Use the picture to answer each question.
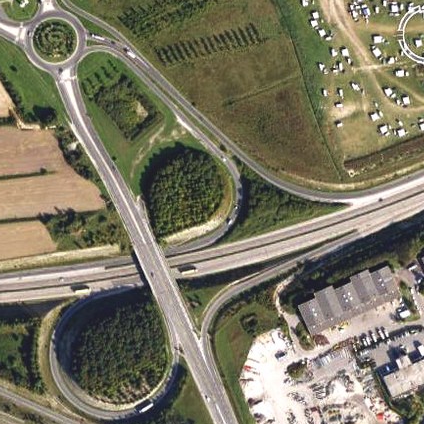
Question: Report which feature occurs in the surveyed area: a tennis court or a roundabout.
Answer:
roundabout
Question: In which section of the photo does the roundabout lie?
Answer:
top left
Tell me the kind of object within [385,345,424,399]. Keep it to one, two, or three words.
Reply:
building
